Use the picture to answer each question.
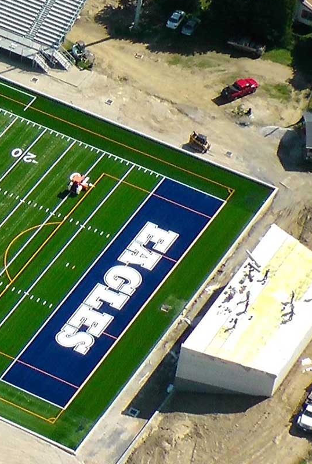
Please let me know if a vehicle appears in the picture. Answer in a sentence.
Yes, the picture does show a vehicle.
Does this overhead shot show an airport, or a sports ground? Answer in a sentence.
This image shows a sports ground.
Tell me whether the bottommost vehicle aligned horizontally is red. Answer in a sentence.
Yes, the bottommost vehicle aligned horizontally is red.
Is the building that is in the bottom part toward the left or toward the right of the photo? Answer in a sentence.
You can find the building that is in the bottom part on the right side of the picture.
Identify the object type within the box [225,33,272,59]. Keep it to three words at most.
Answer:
truck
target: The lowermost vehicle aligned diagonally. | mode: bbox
[70,171,99,200]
